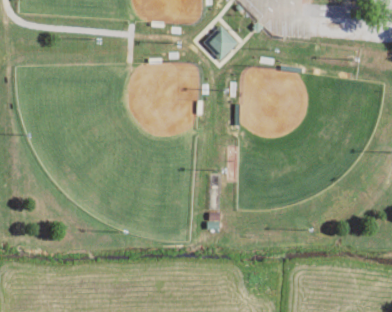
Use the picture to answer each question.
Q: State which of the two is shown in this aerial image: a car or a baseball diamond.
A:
baseball diamond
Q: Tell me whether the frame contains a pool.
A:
No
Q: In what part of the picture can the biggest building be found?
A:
top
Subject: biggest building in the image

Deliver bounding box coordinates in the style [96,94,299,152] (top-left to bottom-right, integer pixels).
[204,26,237,60]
